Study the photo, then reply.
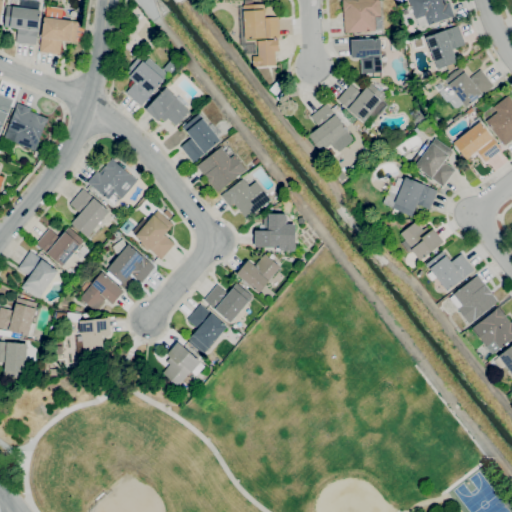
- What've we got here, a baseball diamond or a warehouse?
baseball diamond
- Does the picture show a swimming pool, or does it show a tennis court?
swimming pool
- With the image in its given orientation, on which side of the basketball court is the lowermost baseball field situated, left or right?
left of it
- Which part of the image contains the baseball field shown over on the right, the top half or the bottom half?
bottom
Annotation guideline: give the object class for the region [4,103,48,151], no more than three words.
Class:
house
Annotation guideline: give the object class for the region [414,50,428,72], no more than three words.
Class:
swimming pool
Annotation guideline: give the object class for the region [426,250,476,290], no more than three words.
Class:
house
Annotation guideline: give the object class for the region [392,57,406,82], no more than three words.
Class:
swimming pool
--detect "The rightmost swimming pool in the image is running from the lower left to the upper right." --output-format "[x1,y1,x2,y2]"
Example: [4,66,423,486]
[447,118,470,136]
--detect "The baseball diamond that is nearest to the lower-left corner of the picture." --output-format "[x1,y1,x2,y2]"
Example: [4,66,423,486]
[29,395,262,512]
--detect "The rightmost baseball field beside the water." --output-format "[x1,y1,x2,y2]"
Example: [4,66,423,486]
[182,250,483,512]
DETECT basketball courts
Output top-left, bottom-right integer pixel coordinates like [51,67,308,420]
[450,470,510,512]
